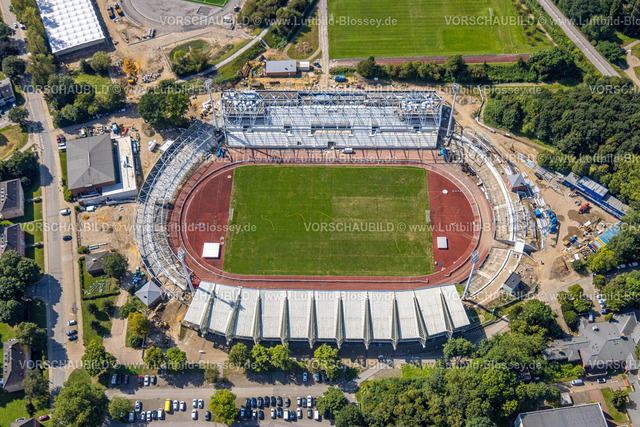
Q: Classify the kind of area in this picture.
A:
sports ground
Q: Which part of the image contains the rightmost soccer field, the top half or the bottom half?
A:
top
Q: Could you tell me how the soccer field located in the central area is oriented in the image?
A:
from side to side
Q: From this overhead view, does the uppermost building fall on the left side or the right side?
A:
left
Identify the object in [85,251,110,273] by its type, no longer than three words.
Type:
building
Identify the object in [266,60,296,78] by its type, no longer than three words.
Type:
building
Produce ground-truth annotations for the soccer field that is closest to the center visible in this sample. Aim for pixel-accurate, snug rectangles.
[222,164,435,275]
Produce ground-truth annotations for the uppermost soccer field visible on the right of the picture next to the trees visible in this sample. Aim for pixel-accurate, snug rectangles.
[329,0,533,59]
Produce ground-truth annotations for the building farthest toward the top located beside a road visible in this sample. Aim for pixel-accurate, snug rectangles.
[36,0,106,60]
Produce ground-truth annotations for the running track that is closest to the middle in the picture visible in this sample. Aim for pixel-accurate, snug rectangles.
[166,151,494,291]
